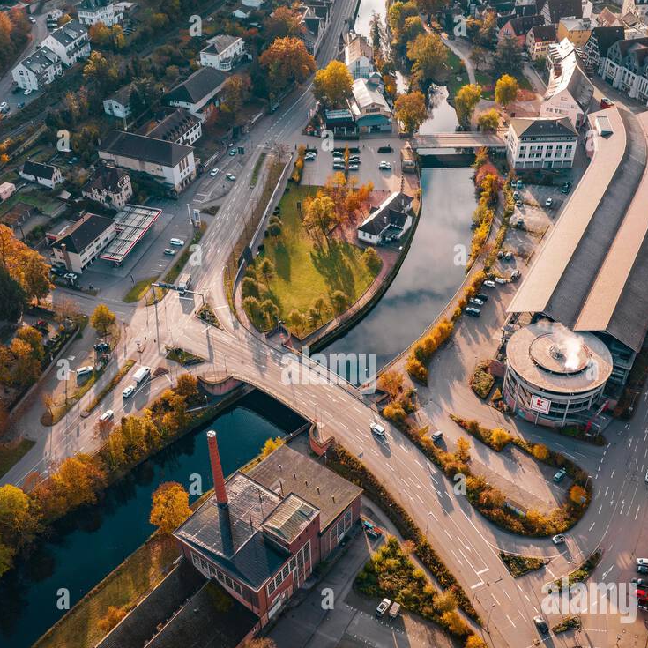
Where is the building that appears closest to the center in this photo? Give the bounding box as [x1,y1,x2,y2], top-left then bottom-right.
[339,192,424,255]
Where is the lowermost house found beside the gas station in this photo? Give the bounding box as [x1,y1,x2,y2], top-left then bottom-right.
[38,212,129,283]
